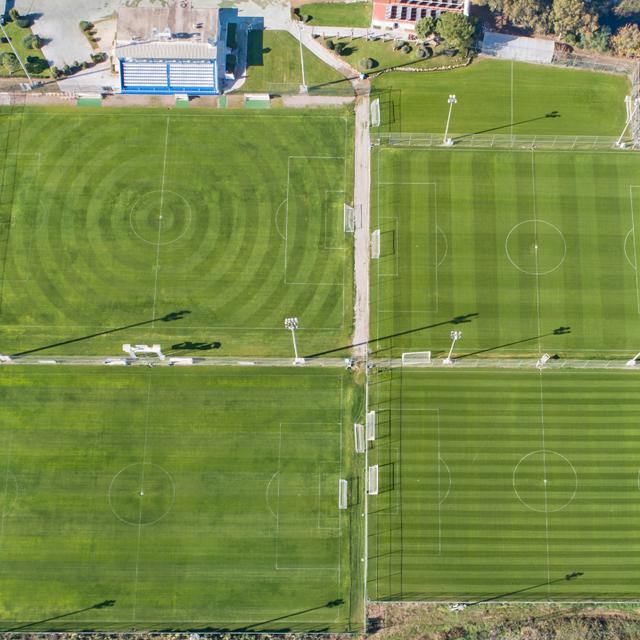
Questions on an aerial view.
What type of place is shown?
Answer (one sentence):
This image shows a sports ground.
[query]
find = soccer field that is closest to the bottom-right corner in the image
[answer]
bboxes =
[368,369,640,601]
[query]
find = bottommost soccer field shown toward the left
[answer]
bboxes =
[0,367,365,636]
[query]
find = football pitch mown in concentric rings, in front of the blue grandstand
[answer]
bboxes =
[0,107,350,359]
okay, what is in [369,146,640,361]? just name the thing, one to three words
soccer field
